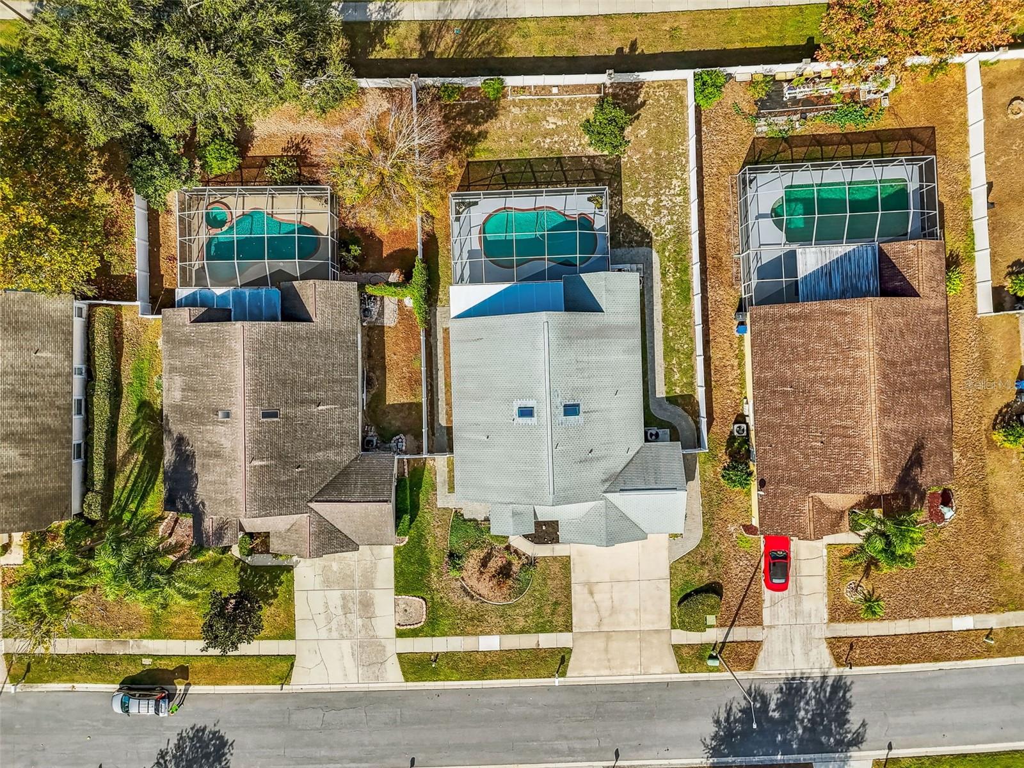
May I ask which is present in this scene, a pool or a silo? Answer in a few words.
pool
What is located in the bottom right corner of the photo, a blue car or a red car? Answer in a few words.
red car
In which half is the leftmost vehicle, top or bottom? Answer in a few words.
bottom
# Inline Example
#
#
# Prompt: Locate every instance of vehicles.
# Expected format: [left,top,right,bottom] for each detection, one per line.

[762,538,791,594]
[115,687,171,717]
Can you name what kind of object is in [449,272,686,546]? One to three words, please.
house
